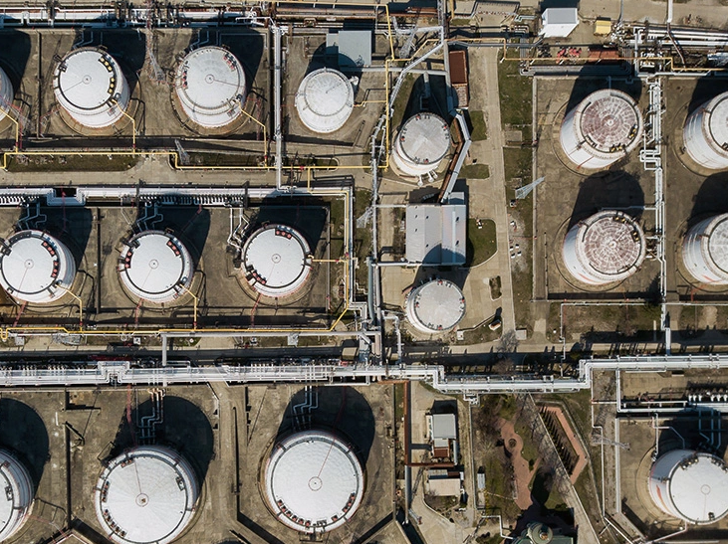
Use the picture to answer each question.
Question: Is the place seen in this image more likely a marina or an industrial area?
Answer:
industrial area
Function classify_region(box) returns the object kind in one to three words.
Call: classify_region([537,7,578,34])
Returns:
building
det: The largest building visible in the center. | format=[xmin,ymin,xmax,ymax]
[404,203,465,264]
